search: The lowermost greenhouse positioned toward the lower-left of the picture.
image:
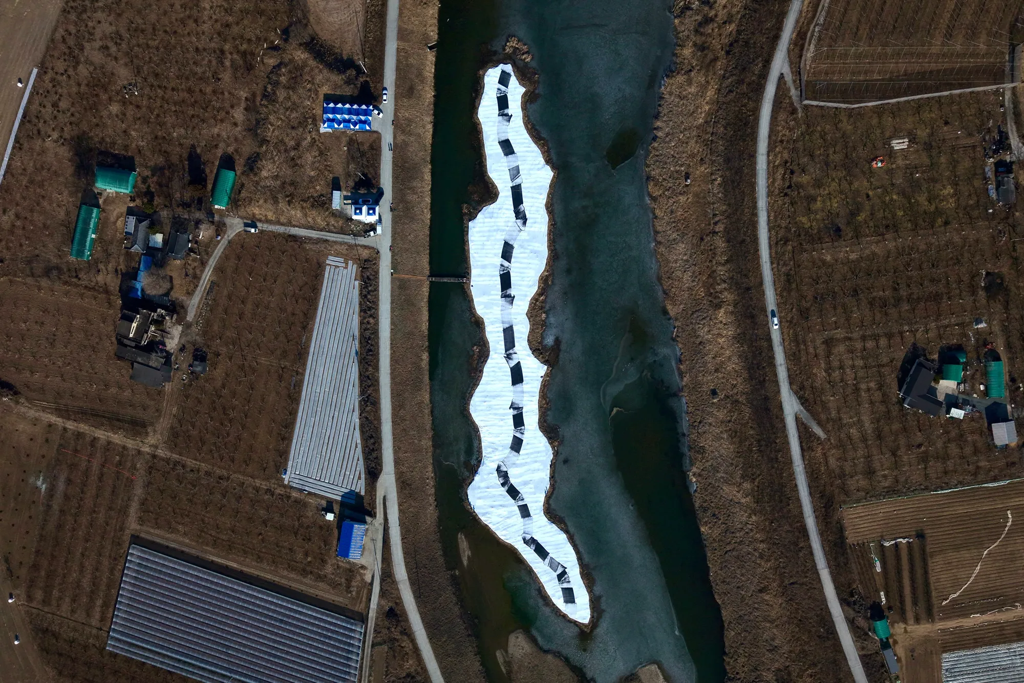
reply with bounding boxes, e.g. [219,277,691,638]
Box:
[108,543,366,683]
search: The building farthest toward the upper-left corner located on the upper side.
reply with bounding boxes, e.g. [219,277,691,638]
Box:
[92,168,138,194]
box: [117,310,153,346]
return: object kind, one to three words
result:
house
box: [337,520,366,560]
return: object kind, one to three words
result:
building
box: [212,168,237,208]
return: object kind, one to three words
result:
house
